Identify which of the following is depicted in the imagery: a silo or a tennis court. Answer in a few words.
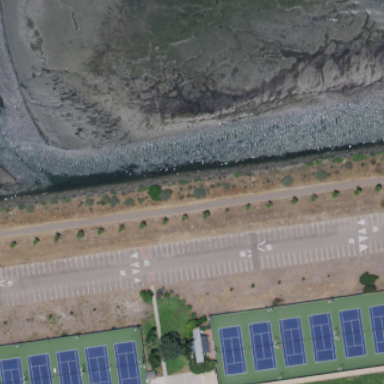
tennis court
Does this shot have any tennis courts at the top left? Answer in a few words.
No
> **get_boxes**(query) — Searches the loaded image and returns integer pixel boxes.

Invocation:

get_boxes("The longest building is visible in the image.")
[194,329,210,363]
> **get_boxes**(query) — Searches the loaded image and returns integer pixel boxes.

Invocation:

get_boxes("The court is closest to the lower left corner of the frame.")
[0,358,24,384]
